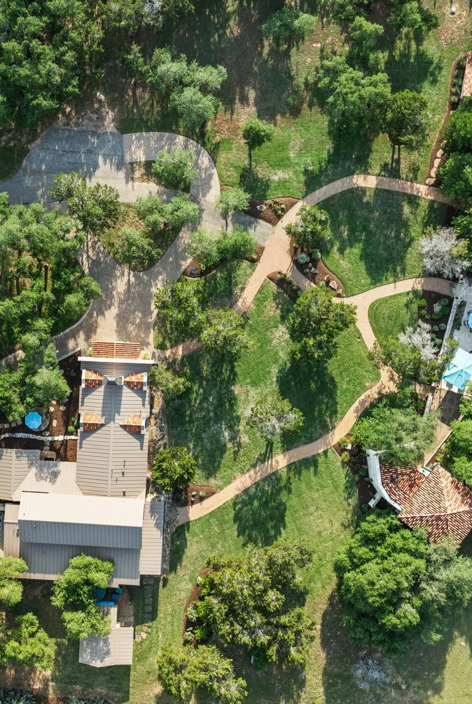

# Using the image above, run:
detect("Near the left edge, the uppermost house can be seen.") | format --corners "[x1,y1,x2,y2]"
[0,341,165,587]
